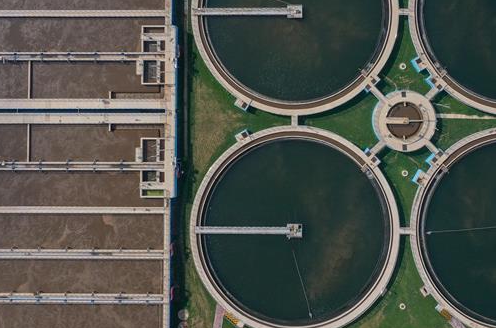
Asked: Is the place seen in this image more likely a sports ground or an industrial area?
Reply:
industrial area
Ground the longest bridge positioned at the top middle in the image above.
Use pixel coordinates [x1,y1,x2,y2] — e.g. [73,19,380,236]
[192,4,303,18]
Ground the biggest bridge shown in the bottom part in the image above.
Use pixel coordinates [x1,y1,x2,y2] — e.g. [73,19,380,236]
[190,222,302,238]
